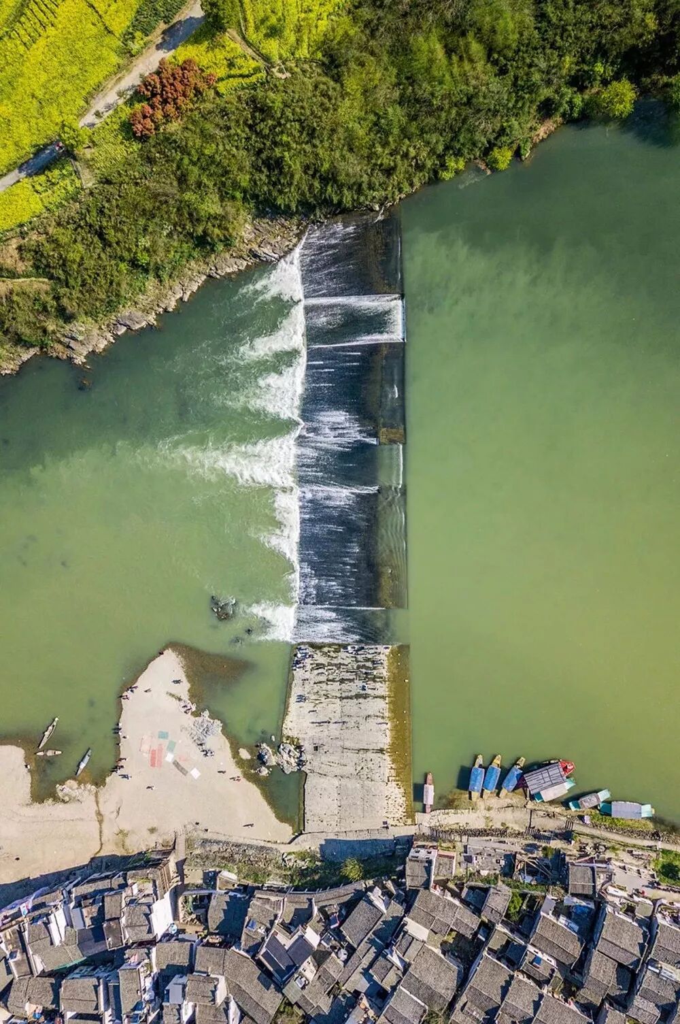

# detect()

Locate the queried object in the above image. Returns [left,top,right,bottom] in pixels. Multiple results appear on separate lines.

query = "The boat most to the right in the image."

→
[597,801,654,820]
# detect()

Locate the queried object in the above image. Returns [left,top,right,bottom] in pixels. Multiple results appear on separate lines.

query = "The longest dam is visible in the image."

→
[282,205,415,835]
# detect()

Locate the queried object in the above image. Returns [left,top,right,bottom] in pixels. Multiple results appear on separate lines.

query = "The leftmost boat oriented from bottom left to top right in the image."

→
[38,717,58,749]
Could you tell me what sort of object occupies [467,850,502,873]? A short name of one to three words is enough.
house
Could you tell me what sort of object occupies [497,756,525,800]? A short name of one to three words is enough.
boat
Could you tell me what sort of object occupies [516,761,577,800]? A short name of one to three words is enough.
boat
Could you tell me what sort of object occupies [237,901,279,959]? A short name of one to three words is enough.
house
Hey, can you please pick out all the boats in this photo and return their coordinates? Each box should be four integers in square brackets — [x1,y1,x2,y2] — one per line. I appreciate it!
[38,717,58,749]
[497,756,525,800]
[423,771,434,813]
[76,748,91,776]
[482,753,502,801]
[568,788,612,812]
[597,801,654,820]
[516,761,577,800]
[35,750,62,756]
[468,754,485,801]
[549,758,562,764]
[531,776,575,803]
